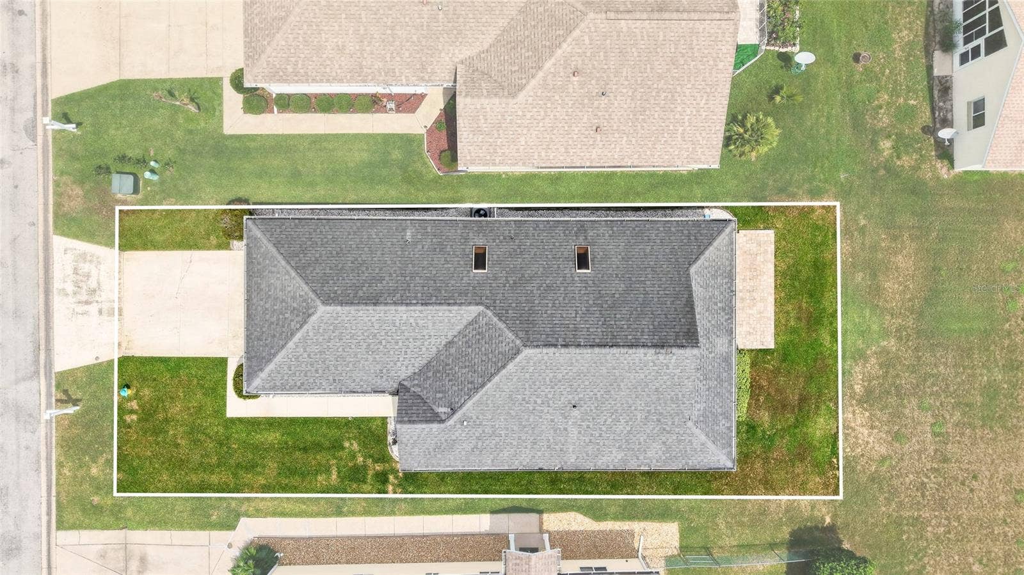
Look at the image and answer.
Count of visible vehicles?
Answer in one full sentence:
The count of vehicles is 0.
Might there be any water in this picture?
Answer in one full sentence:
No, there's no water in this view.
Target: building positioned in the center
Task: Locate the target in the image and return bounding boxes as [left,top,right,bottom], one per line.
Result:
[245,218,735,471]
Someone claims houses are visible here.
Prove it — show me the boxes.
[243,0,737,171]
[954,0,1024,170]
[267,533,661,575]
[245,218,735,471]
